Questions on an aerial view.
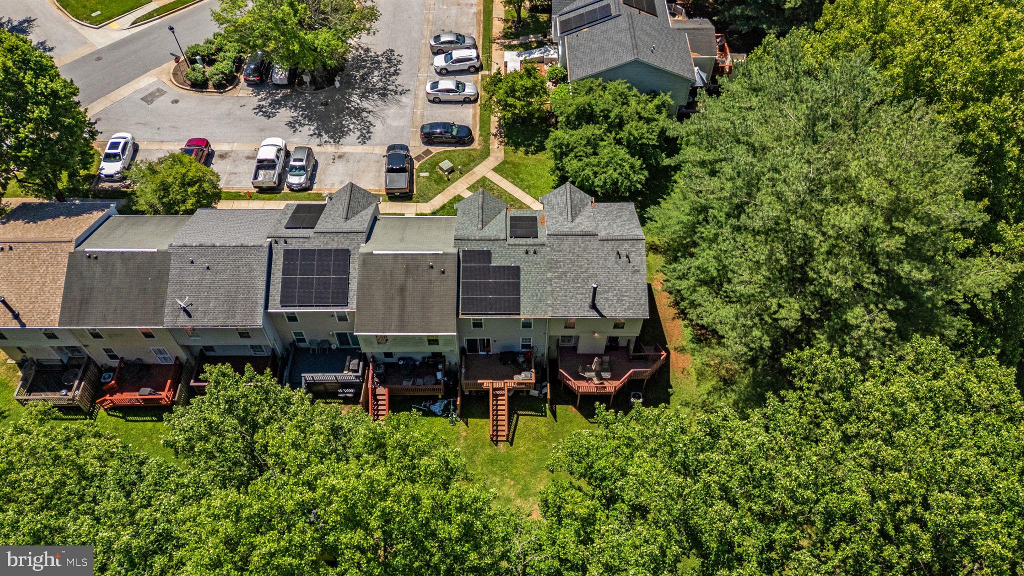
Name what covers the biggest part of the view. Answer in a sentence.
For the most part, this view shows trees.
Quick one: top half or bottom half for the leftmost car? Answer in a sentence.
The leftmost car is in the top half of the image.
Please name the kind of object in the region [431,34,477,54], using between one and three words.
car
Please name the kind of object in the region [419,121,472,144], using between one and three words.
car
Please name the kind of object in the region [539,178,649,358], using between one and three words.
house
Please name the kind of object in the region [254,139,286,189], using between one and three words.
truck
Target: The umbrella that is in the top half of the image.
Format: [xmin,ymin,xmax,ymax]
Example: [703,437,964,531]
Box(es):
[688,83,711,109]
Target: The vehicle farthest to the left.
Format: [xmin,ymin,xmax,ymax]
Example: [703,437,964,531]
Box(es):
[99,135,135,178]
